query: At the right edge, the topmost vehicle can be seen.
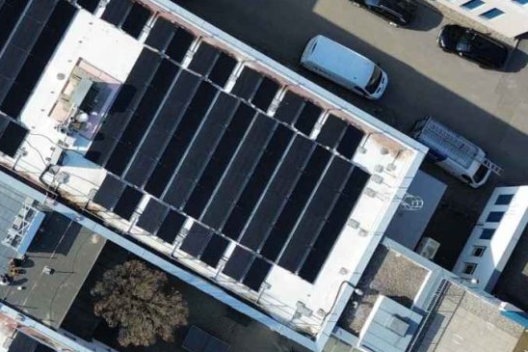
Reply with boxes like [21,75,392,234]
[434,24,513,70]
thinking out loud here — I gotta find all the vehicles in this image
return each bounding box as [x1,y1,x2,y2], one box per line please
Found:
[298,35,386,98]
[408,120,509,190]
[434,24,513,70]
[345,0,419,29]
